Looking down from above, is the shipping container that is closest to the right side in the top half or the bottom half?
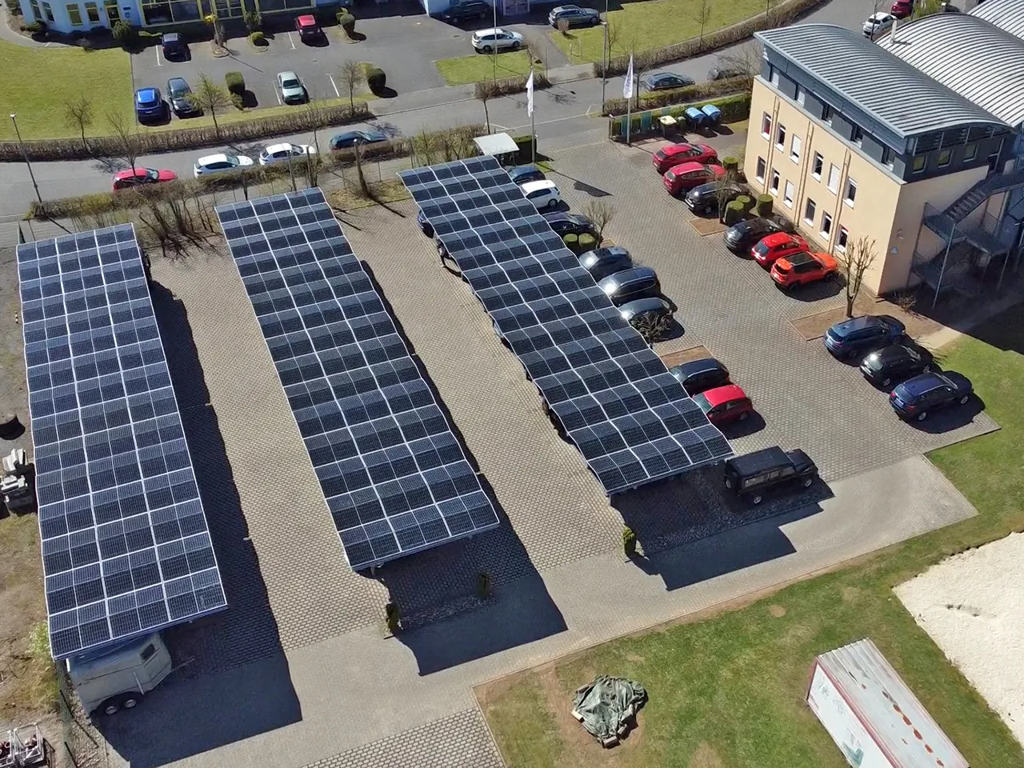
bottom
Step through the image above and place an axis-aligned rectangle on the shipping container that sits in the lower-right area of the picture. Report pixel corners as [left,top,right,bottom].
[808,639,970,768]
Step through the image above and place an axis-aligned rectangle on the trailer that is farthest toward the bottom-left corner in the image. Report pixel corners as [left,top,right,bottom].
[67,632,195,710]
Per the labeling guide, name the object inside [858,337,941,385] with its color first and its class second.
black car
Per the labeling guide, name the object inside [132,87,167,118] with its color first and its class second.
blue car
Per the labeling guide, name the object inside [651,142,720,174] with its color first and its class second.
red car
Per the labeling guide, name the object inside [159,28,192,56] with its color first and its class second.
black car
